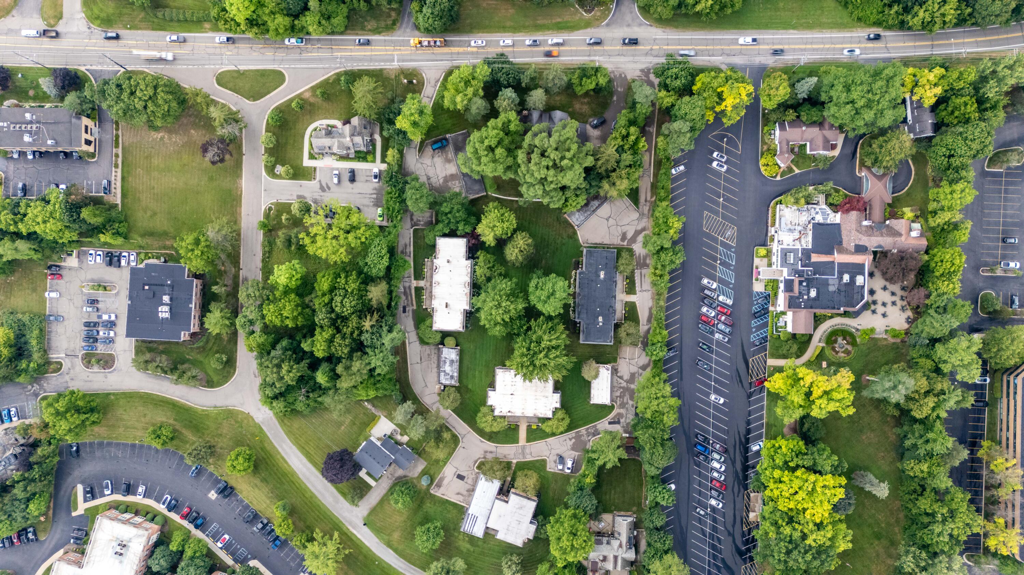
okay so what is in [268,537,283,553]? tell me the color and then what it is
blue vehicle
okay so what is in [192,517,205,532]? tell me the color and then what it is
blue vehicle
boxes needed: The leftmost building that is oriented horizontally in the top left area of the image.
[0,107,99,155]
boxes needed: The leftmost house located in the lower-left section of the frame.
[0,425,32,470]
